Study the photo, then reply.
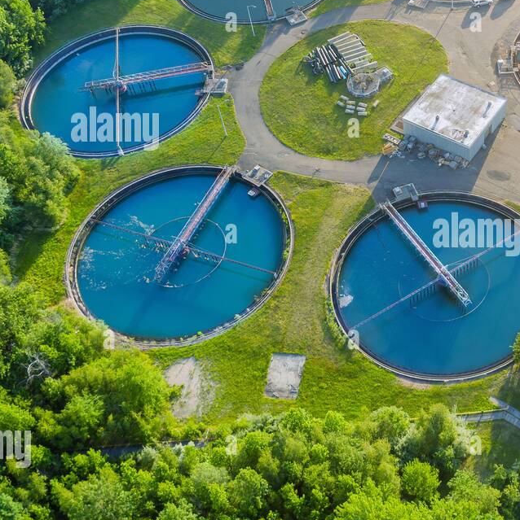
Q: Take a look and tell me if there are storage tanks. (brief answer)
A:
Yes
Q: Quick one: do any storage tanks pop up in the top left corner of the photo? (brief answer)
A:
Yes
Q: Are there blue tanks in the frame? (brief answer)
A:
Yes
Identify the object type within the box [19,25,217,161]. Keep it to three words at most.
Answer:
storage tank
